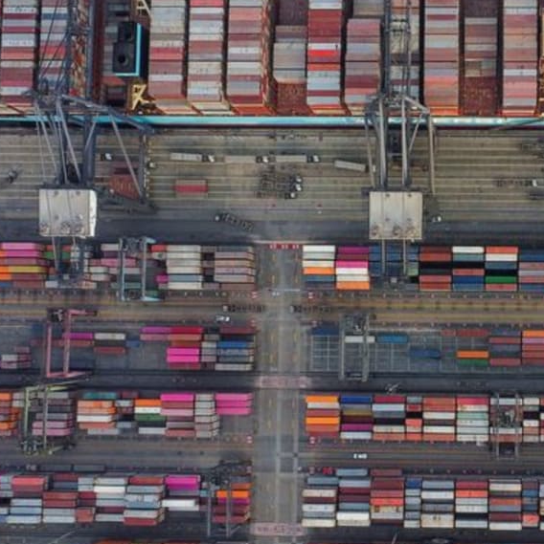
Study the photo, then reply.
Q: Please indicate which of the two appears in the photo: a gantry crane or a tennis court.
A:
gantry crane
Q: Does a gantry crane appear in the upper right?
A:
Yes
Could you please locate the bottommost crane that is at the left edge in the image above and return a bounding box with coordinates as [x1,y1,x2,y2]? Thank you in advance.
[22,382,77,454]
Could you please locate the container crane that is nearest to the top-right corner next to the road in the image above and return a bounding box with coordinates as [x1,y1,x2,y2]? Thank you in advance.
[359,0,443,283]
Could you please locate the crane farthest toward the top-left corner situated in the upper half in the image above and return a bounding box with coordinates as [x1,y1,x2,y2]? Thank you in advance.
[33,0,157,279]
